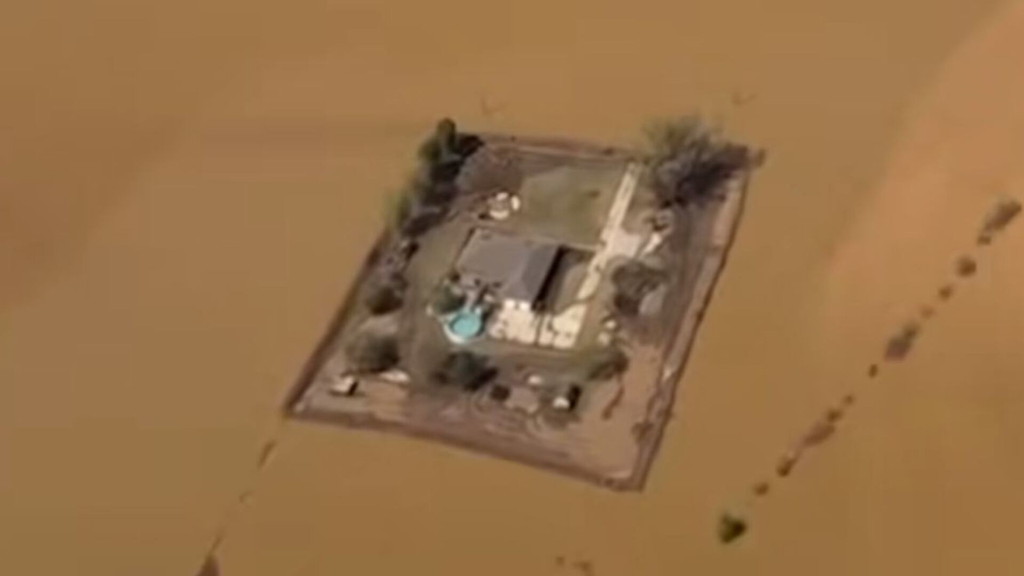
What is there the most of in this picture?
water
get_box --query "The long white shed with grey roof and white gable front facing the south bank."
[554,376,579,411]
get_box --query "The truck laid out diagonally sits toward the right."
[644,231,665,252]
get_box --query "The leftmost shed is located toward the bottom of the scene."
[333,373,357,396]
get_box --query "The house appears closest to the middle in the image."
[457,230,559,312]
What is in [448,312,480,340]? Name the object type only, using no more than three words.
swimming pool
